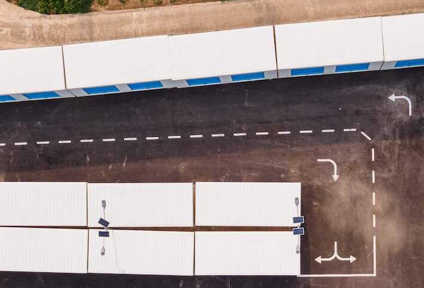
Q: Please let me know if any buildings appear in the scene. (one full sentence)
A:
No, no building is visible in the scene.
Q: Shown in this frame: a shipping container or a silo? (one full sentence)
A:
This aerial view contains a shipping container.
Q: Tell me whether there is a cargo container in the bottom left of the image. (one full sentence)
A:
Yes, in the bottom left of the image there is a cargo container.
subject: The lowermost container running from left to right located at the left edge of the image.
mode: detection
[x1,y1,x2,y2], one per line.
[0,227,90,272]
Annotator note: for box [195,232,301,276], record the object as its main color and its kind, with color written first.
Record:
white shipping container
